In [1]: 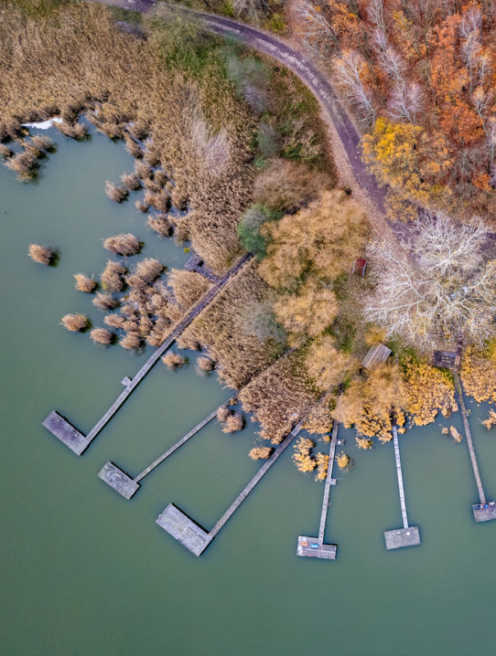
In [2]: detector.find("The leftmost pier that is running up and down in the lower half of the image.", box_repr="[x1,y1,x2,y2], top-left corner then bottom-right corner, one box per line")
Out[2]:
[297,406,346,560]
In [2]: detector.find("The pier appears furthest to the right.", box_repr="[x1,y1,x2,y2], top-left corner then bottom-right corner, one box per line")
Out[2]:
[453,370,496,522]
